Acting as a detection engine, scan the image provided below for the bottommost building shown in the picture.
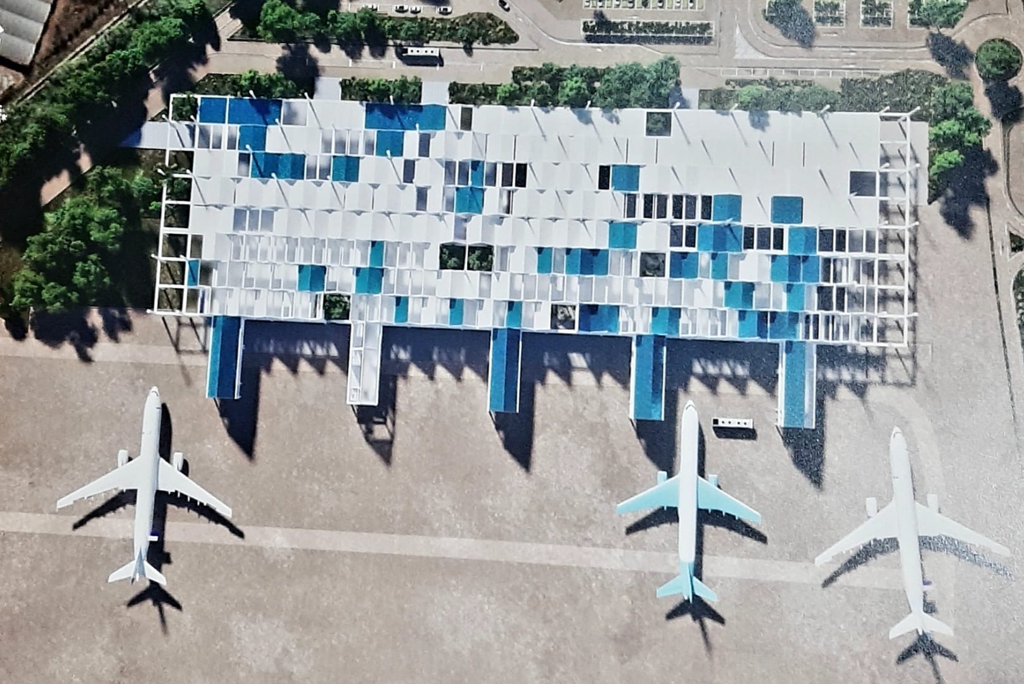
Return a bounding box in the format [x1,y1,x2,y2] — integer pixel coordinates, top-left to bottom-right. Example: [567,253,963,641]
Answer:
[145,91,920,345]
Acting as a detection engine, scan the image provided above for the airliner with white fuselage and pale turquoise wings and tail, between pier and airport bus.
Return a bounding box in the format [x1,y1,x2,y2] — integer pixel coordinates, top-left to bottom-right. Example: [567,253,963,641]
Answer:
[617,401,765,605]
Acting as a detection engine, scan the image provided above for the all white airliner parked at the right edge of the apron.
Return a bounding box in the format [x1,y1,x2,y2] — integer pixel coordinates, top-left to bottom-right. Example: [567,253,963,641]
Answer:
[814,427,1012,640]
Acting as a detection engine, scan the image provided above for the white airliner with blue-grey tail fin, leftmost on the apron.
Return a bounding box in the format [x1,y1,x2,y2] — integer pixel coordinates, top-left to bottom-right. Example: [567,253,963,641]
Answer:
[53,387,229,587]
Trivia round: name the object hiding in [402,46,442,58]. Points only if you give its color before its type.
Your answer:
white vehicle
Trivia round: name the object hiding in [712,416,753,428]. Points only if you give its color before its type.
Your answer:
white vehicle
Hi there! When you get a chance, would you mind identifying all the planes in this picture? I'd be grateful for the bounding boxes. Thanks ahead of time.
[53,387,229,587]
[617,401,765,605]
[814,427,1012,640]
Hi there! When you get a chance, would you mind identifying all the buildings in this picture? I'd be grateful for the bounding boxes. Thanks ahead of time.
[0,0,62,70]
[145,91,920,345]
